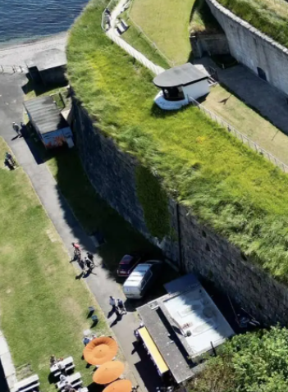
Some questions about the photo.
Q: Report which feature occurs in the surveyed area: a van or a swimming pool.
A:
van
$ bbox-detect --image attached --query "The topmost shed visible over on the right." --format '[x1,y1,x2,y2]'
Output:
[154,63,213,111]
